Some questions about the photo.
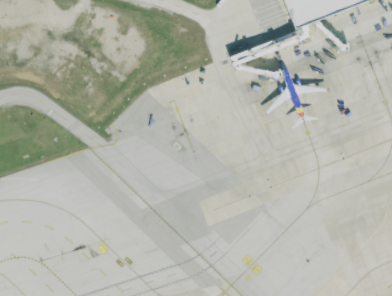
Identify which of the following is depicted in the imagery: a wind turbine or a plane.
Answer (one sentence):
I can see a plane in this picture.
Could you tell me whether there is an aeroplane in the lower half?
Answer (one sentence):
No, in the lower half there is no aeroplane.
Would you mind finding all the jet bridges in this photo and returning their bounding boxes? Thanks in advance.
[234,64,285,78]
[316,21,352,52]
